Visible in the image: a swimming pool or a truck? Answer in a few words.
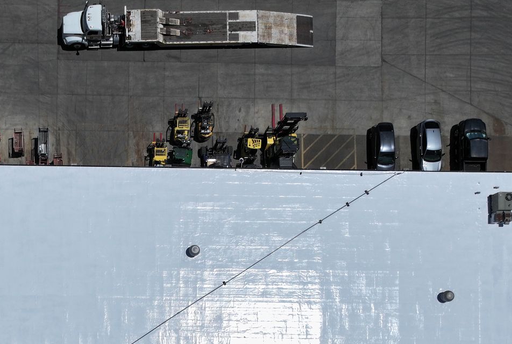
truck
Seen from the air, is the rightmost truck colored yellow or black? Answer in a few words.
black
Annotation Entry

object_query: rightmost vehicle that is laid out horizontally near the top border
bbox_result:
[124,0,312,53]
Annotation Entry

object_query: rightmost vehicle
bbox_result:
[454,119,491,170]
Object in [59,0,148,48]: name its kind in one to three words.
truck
